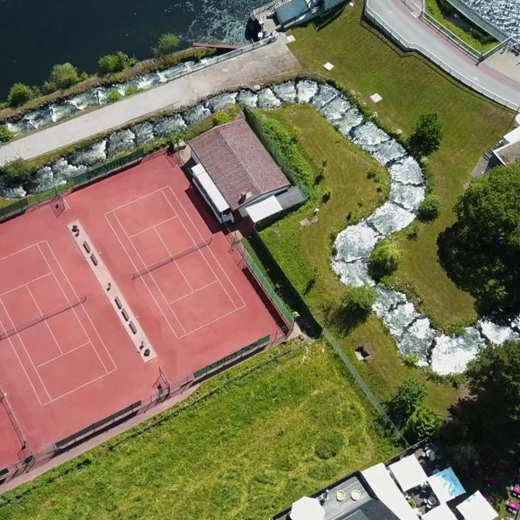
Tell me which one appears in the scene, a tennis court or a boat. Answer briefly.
tennis court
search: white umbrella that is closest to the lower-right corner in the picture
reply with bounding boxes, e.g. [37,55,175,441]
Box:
[457,491,499,520]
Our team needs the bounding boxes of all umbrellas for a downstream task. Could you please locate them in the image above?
[286,494,328,520]
[429,468,466,503]
[457,491,499,520]
[389,455,427,492]
[422,505,456,520]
